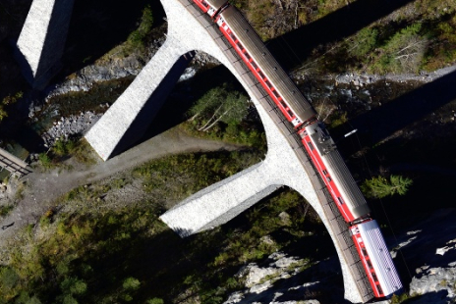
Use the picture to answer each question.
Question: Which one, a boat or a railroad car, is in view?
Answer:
railroad car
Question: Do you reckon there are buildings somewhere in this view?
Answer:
No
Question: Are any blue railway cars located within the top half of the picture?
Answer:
No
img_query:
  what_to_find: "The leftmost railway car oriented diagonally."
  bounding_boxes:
[211,2,317,130]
